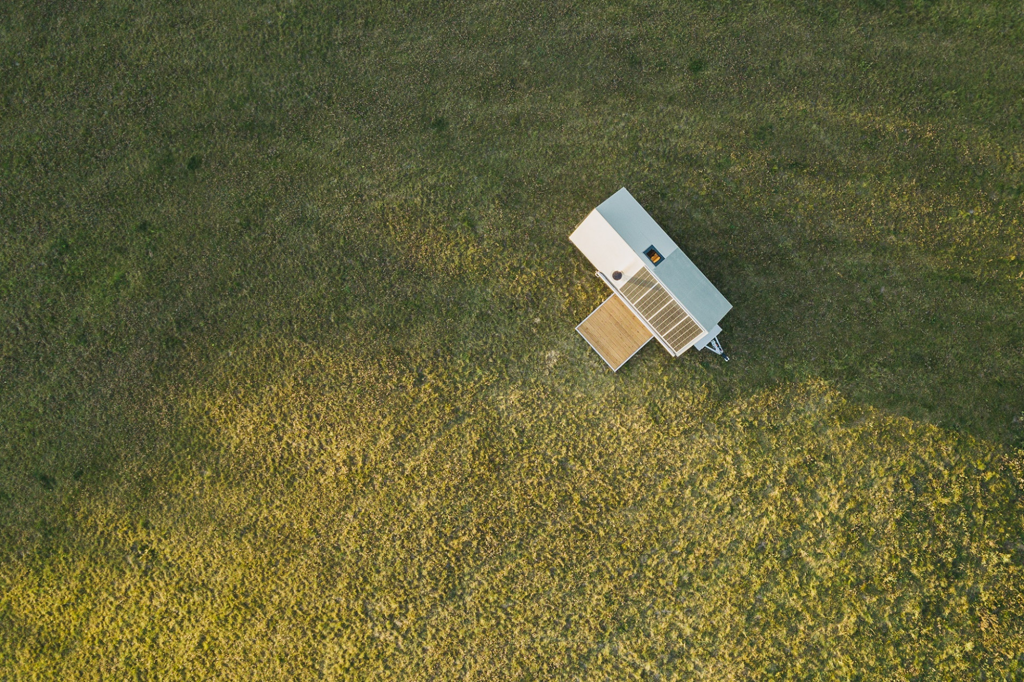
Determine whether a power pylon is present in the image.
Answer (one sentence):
No, I can't see a single power pylon in this photo.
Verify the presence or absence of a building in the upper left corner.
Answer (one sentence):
No, in the upper left corner there is no building.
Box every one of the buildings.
[569,186,733,361]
